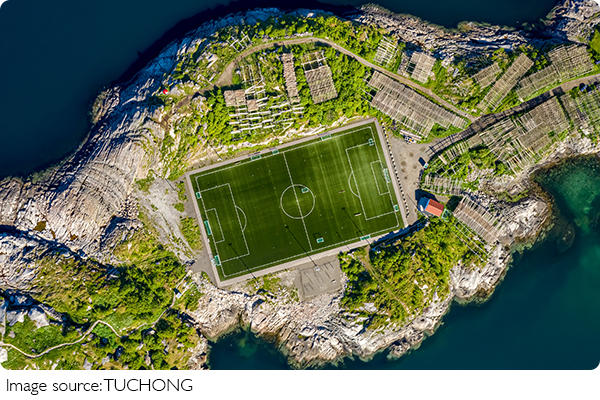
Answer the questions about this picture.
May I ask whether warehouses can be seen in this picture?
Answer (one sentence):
No, no warehouse can be seen from above.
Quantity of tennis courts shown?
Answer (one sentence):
The count of tennis courts is 0.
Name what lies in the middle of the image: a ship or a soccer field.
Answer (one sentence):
Visible in the middle of the image is a soccer field.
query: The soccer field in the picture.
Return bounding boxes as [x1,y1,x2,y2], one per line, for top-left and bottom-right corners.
[183,114,412,288]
